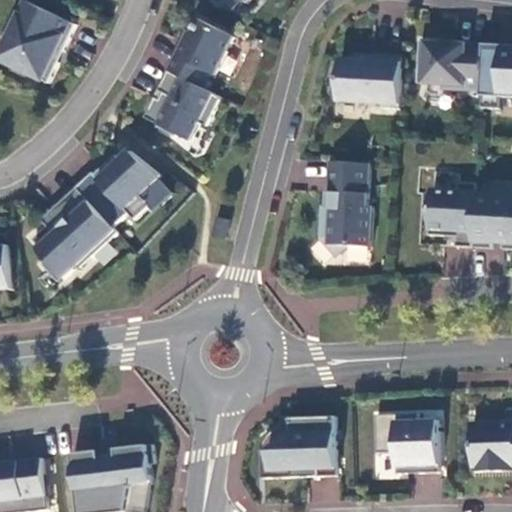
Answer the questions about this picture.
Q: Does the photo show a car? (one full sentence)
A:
Yes, the picture does show a car.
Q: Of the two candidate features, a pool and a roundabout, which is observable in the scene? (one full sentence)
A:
Of the two, only a roundabout appears.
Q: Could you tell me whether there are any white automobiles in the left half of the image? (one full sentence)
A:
Yes, looking in the left half of the image, one can make out a white automobile.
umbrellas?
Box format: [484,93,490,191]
[440,96,455,111]
[229,48,240,58]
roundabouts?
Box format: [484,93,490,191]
[136,268,314,445]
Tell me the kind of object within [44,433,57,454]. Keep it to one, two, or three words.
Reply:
vehicle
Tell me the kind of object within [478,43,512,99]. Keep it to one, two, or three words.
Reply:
house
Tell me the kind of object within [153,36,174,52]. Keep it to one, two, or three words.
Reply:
car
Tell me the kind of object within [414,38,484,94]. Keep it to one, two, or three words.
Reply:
house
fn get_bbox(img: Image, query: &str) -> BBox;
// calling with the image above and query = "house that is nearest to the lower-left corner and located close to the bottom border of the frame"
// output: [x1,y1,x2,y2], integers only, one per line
[0,456,52,512]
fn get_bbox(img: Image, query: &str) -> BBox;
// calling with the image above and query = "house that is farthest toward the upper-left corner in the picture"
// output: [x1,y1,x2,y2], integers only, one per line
[0,2,73,84]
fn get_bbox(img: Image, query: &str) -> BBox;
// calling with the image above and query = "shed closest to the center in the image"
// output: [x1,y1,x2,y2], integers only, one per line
[215,209,236,236]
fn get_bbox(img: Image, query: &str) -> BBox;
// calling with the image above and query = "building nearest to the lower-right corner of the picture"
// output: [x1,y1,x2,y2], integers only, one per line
[464,414,512,472]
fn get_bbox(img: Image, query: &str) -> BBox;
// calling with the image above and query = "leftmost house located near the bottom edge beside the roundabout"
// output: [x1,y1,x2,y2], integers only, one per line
[63,444,161,512]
